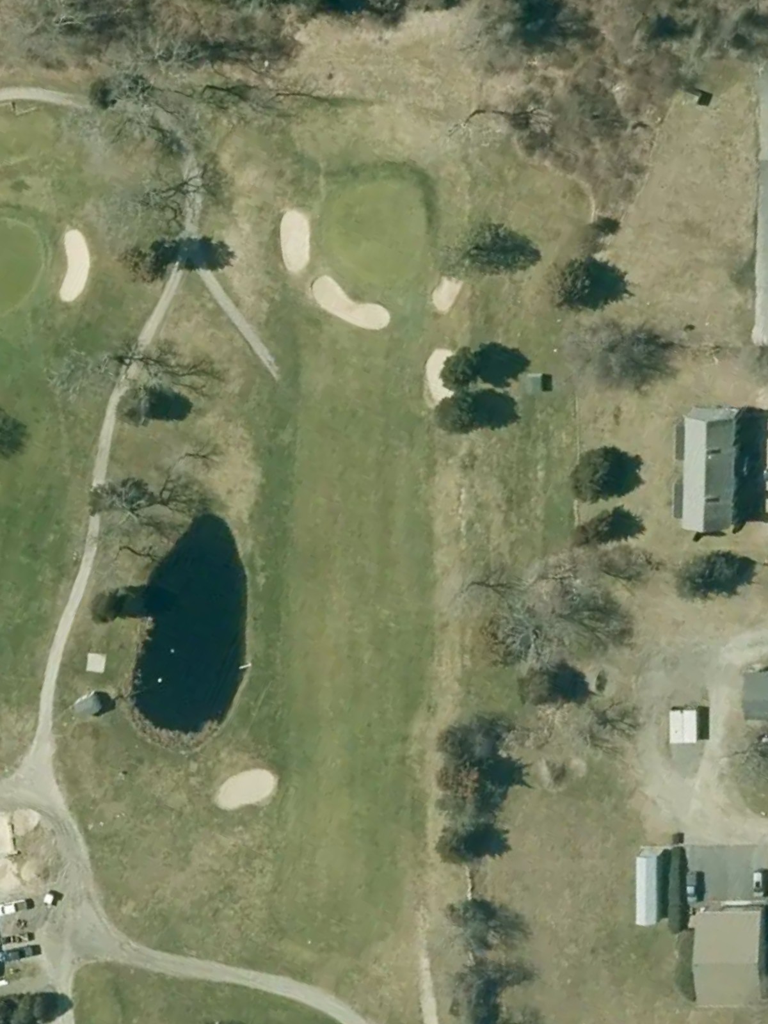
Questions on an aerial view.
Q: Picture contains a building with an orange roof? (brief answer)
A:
No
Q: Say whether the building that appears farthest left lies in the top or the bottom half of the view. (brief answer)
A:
bottom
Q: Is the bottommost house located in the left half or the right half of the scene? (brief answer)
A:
right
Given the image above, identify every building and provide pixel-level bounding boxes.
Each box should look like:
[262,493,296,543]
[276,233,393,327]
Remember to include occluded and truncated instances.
[525,372,544,391]
[674,410,742,535]
[688,904,767,1006]
[670,705,699,744]
[685,87,703,103]
[72,686,108,717]
[637,850,662,927]
[741,665,768,719]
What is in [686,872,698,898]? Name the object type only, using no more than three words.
vehicle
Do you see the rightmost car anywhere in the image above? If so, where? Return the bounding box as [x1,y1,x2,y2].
[753,868,765,894]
